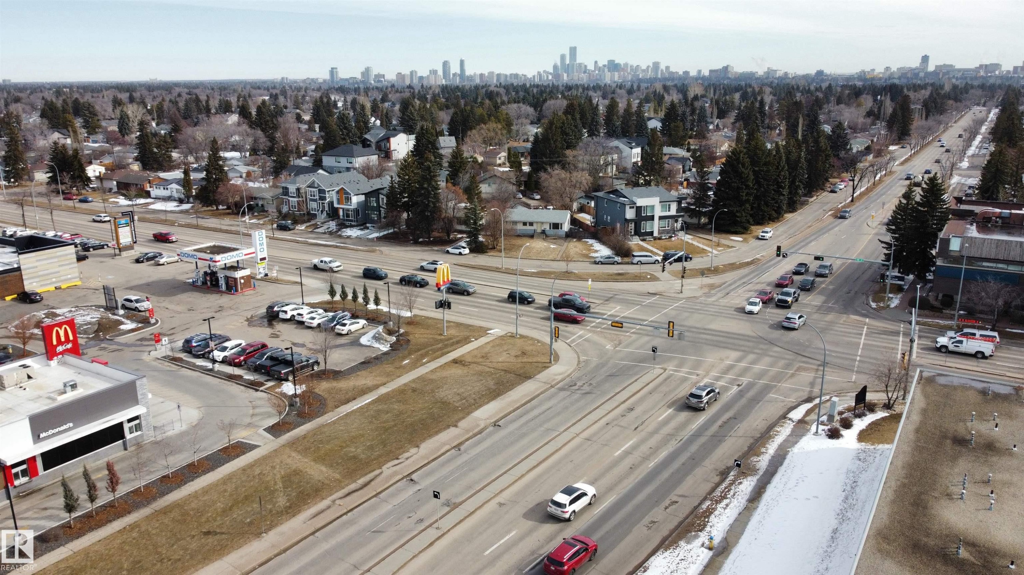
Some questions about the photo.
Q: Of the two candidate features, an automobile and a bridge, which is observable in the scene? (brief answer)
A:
automobile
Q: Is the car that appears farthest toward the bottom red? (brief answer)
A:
Yes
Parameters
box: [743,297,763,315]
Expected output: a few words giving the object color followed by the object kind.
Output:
white car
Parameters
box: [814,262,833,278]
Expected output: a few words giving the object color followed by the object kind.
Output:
gray car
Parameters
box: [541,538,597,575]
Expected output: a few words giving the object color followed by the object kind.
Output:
red car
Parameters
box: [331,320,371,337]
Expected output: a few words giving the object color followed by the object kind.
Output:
white car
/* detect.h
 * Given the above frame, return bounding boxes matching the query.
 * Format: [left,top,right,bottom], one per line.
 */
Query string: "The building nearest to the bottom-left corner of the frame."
[0,354,157,504]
